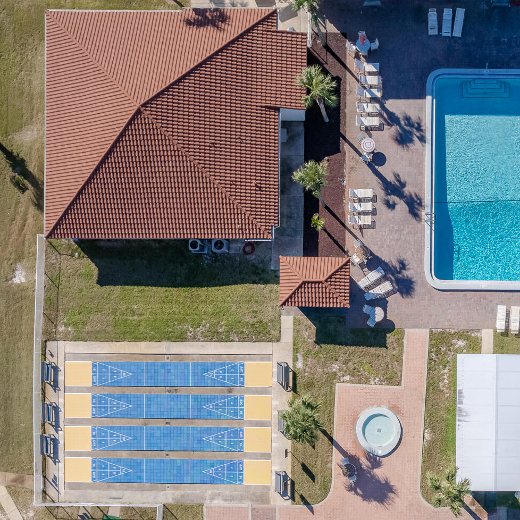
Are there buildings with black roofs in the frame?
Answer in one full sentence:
No, the picture doesn't show any building with a black roof.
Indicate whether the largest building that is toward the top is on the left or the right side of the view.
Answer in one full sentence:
The largest building that is toward the top is on the left side of the image.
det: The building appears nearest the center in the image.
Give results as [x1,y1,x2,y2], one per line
[279,256,351,309]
